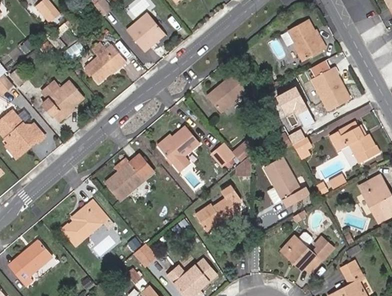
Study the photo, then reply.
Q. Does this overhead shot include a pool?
Yes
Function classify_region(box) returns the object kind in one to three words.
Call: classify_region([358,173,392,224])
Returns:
house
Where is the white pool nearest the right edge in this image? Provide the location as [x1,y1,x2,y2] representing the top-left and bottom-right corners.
[336,204,371,232]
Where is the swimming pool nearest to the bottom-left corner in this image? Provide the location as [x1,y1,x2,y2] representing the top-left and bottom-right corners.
[181,163,206,192]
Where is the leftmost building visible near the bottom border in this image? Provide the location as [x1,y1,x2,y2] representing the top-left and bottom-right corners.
[10,240,58,284]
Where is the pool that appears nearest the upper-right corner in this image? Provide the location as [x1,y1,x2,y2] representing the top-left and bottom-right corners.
[267,36,288,61]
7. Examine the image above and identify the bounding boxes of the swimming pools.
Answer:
[181,163,206,192]
[267,36,288,61]
[336,204,371,232]
[316,154,353,182]
[308,210,332,234]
